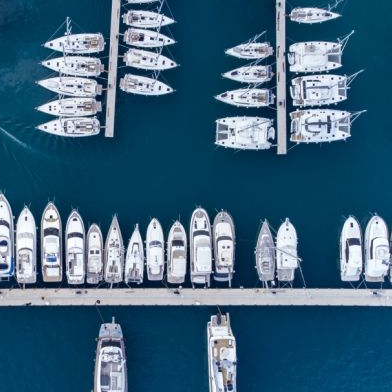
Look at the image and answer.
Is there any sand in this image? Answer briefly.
No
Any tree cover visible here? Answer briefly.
No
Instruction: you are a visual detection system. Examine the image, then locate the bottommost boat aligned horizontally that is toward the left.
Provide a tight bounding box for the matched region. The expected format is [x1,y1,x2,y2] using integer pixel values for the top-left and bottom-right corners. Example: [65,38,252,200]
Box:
[34,114,106,139]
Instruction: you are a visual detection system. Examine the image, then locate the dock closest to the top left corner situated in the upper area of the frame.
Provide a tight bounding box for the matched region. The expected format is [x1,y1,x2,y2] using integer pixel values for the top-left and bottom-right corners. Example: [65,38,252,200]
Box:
[105,0,119,138]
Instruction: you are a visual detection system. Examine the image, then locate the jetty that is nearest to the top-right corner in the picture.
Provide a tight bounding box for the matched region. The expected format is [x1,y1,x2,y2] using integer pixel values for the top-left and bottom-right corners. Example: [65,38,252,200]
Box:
[274,0,287,155]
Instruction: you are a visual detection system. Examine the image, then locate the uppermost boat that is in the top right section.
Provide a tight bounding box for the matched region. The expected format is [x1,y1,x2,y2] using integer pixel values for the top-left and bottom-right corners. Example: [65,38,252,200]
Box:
[282,0,351,26]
